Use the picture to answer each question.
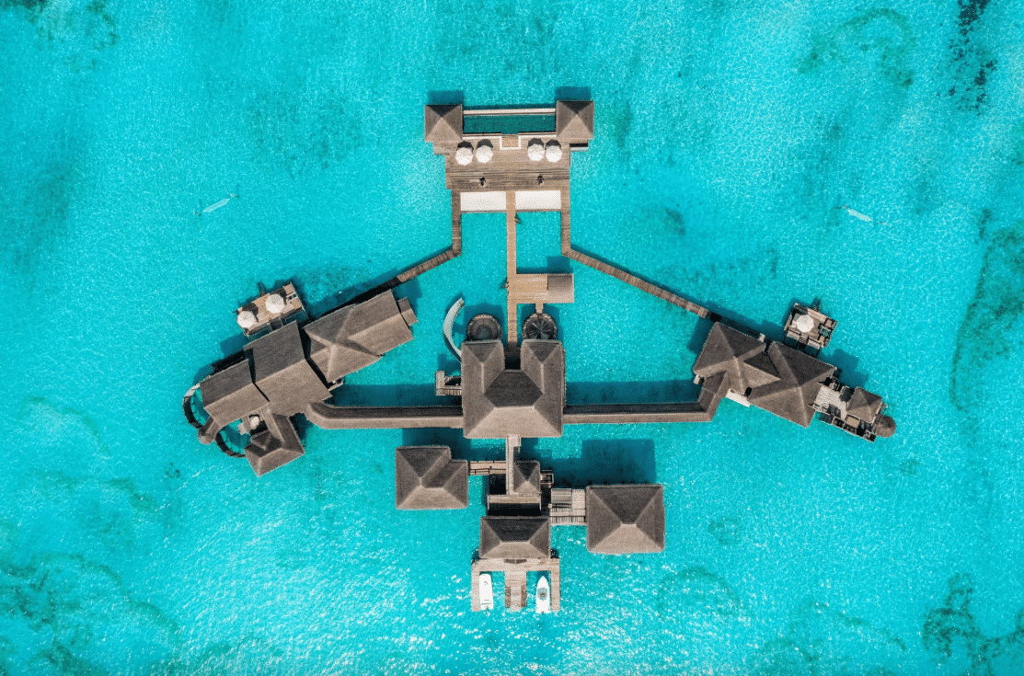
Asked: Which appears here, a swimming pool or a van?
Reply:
swimming pool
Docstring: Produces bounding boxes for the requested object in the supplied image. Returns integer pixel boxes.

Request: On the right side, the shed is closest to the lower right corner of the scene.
[870,416,895,436]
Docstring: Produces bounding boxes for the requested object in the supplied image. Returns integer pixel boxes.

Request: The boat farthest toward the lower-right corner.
[537,570,554,617]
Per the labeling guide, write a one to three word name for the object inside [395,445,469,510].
house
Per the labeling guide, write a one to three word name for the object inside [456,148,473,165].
umbrella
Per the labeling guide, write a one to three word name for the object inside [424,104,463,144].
building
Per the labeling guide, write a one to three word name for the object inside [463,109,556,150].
swimming pool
